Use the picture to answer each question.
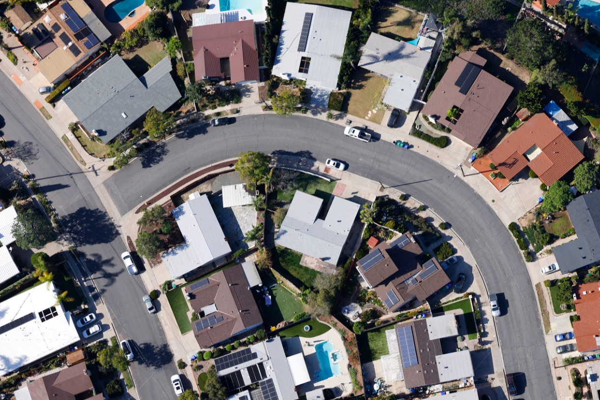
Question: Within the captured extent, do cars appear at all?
Yes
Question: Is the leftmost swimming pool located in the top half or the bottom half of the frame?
top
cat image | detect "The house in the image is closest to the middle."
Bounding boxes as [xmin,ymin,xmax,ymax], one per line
[276,191,361,266]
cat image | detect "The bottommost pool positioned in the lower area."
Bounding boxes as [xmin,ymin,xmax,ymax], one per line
[312,339,344,383]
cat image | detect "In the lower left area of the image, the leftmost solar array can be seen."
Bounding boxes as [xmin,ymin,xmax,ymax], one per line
[0,314,35,334]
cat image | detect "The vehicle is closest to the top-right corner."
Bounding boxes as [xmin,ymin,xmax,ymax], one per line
[386,109,401,129]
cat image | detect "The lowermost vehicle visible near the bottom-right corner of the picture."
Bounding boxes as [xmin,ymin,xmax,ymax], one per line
[505,373,517,396]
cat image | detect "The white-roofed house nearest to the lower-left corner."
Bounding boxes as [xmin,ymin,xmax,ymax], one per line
[0,281,83,376]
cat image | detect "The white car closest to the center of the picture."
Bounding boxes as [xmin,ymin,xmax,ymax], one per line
[325,158,345,171]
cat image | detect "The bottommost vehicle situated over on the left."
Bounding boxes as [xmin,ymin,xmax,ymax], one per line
[170,375,185,398]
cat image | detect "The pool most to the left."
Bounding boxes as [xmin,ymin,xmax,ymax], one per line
[103,0,146,23]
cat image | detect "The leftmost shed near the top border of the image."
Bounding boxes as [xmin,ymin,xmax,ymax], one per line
[4,4,34,31]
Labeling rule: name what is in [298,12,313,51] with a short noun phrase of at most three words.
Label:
solar array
